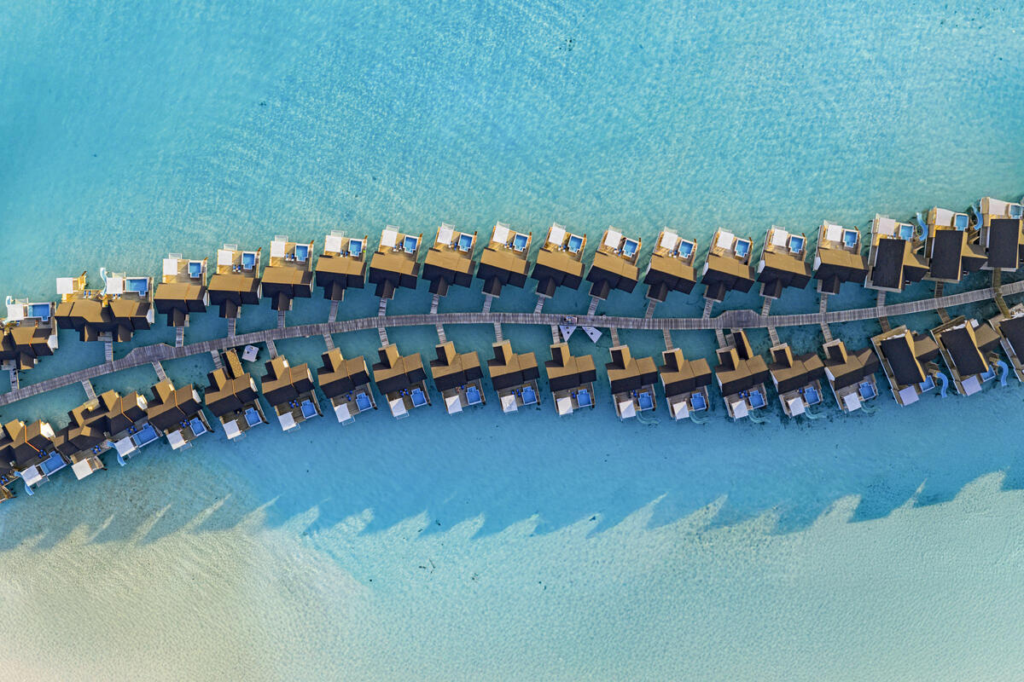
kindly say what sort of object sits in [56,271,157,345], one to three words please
house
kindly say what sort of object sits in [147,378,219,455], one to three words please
house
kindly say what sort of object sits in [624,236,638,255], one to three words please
swimming pool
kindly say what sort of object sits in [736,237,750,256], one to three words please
swimming pool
